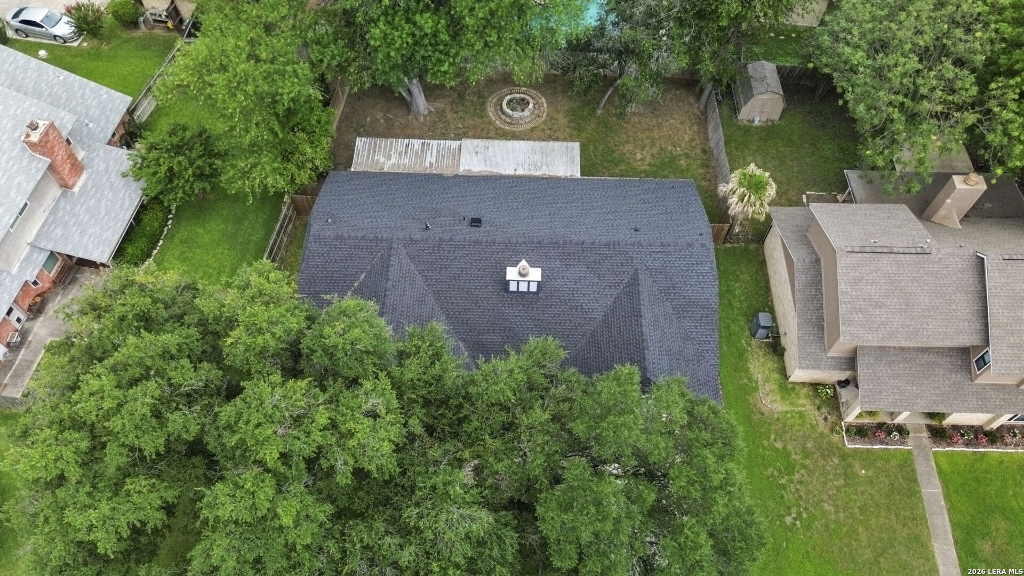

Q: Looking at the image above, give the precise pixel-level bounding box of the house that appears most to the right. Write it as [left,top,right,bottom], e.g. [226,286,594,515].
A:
[765,173,1024,430]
